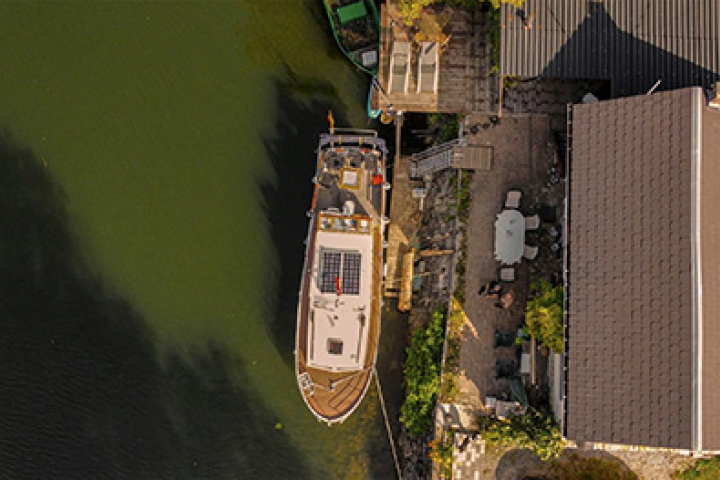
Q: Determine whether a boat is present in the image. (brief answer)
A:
Yes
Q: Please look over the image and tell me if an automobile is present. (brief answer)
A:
No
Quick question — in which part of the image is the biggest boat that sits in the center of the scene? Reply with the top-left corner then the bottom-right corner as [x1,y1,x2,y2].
[294,110,388,426]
